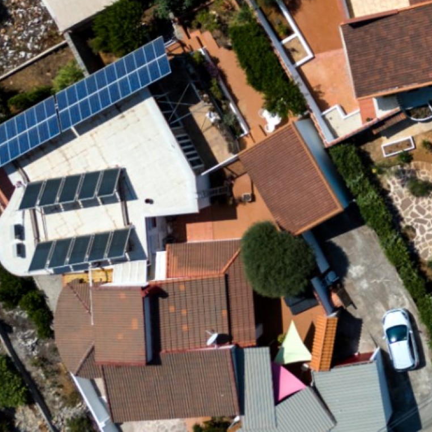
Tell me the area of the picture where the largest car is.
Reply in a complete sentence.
The largest car appears toward the bottom right of the photo.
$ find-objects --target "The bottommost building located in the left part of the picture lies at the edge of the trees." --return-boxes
[54,233,266,425]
